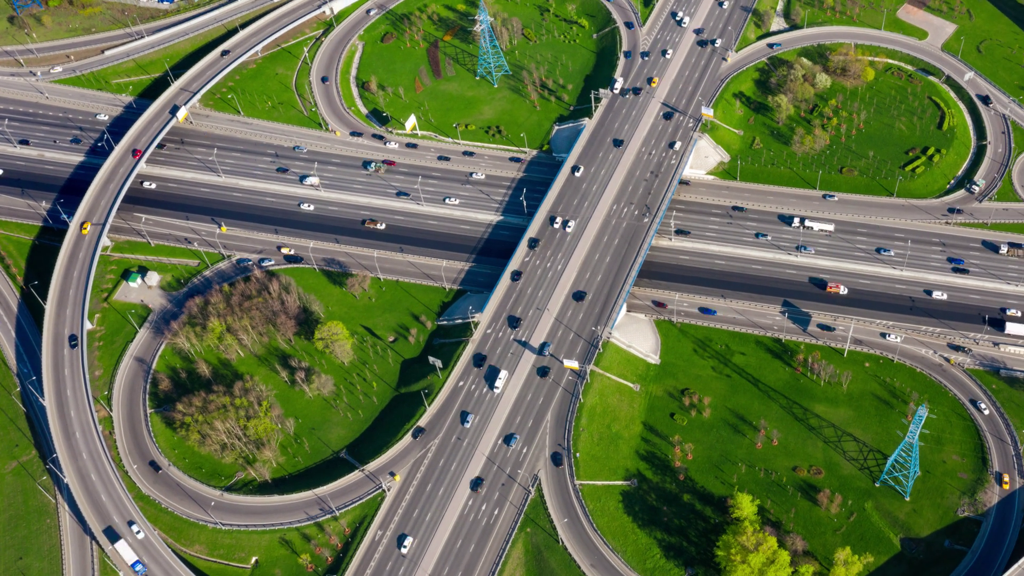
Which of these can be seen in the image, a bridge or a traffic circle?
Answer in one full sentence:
Of the two, only a bridge appears.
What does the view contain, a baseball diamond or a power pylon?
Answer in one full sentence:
The image shows a power pylon.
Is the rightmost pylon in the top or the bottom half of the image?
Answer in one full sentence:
You can find the rightmost pylon in the bottom half.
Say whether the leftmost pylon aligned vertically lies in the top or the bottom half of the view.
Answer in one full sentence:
You can find the leftmost pylon aligned vertically in the top half.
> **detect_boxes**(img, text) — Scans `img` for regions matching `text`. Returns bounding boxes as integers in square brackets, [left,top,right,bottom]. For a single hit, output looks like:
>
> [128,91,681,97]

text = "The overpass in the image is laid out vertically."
[42,0,356,576]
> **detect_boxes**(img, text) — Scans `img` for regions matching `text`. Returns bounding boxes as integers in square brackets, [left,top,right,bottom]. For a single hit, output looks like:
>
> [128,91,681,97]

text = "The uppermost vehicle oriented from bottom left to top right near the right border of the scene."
[965,178,986,198]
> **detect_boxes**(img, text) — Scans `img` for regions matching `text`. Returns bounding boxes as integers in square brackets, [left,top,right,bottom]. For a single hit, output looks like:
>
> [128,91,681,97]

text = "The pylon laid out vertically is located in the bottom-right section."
[874,396,932,499]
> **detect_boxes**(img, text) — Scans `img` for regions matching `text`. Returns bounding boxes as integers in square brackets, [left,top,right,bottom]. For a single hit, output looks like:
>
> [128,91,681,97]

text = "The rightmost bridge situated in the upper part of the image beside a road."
[487,109,696,334]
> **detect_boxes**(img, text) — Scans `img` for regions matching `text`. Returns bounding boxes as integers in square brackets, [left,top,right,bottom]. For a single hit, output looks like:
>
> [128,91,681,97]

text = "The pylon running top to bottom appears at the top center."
[476,0,511,88]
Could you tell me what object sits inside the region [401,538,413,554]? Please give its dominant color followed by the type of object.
white vehicle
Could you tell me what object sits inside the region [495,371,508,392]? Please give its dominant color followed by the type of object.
white vehicle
